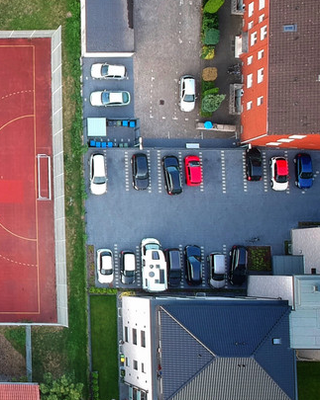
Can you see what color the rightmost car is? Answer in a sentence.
The color of the rightmost car is blue.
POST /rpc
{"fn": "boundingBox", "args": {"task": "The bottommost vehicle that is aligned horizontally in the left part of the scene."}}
[89,90,130,107]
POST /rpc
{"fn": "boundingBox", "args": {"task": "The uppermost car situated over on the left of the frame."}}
[90,62,126,80]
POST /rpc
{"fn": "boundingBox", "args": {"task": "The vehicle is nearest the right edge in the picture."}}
[293,153,315,190]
